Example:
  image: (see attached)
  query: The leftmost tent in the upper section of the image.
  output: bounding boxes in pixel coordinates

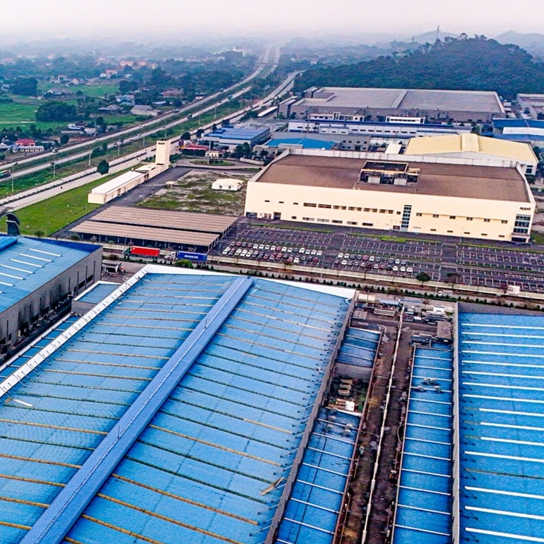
[211,176,246,191]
